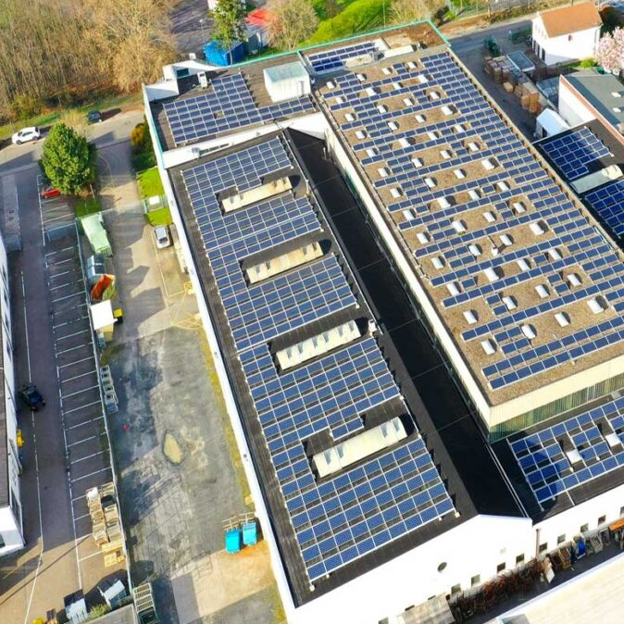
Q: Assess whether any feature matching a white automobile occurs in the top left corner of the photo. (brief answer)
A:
Yes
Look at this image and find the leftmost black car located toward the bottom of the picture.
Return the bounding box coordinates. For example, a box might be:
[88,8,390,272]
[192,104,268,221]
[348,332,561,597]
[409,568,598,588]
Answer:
[16,380,48,409]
